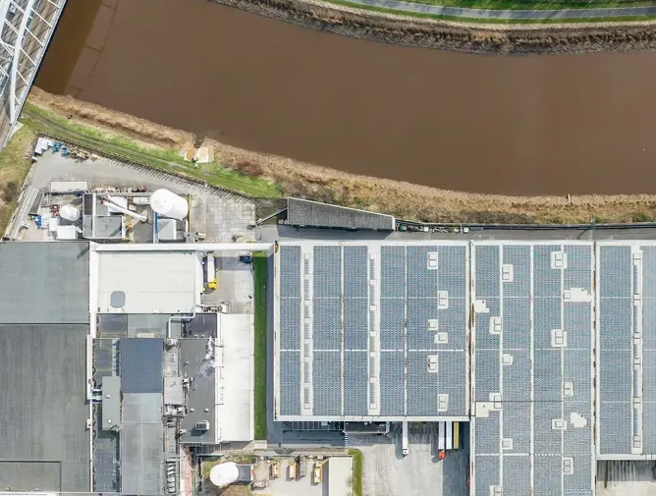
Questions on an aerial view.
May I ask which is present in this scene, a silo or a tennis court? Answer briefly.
silo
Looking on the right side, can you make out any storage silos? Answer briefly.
No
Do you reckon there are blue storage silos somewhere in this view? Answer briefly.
No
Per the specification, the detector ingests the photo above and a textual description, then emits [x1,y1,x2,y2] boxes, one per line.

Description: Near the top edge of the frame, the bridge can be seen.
[0,0,67,177]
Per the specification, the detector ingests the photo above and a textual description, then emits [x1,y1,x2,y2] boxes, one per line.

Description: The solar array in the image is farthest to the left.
[280,246,301,413]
